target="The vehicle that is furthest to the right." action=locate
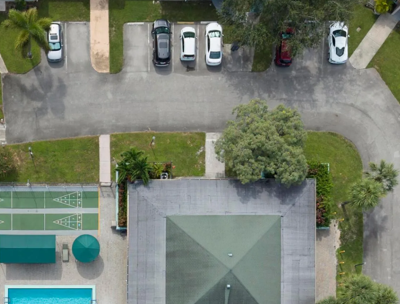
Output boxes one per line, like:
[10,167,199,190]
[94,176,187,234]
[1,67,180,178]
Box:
[327,23,349,65]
